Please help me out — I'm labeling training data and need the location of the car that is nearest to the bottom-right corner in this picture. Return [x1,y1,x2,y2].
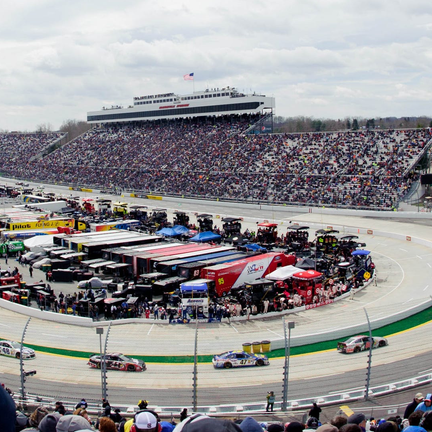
[339,337,381,354]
